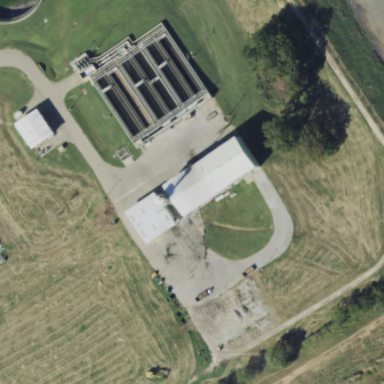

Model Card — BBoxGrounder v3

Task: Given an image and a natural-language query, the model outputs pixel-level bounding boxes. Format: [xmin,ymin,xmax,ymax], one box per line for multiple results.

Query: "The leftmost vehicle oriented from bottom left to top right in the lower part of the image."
[194,288,212,302]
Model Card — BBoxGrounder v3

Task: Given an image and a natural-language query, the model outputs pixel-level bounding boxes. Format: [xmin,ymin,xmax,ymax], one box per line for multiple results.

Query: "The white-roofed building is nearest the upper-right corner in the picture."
[162,136,261,218]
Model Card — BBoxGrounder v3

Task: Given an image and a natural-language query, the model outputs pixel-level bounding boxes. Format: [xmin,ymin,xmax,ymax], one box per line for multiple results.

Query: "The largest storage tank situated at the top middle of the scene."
[90,22,213,150]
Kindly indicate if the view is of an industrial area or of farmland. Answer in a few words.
industrial area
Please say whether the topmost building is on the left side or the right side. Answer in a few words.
left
